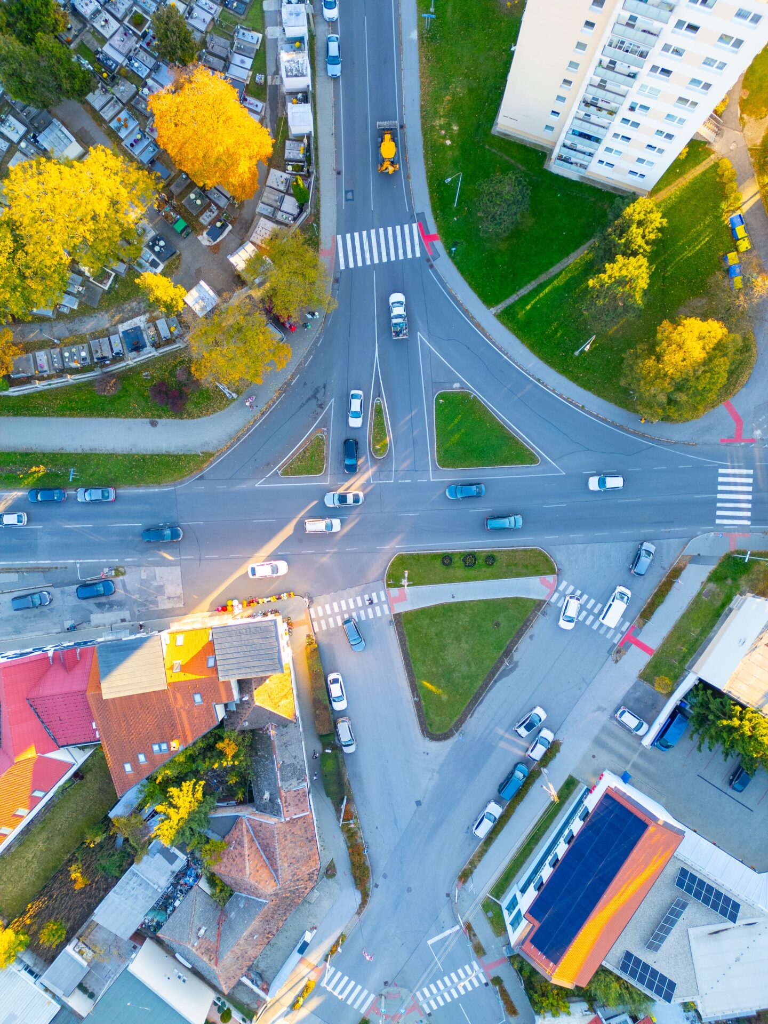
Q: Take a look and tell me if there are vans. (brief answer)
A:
Yes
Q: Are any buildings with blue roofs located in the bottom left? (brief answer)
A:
Yes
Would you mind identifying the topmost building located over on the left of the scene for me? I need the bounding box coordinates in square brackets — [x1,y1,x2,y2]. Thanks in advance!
[282,3,307,42]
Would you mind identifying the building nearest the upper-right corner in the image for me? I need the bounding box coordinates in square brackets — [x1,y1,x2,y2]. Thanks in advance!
[488,0,768,204]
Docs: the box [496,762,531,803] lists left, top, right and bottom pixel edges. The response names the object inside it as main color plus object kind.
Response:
blue vehicle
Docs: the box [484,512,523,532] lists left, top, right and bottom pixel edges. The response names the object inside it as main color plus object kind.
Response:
blue car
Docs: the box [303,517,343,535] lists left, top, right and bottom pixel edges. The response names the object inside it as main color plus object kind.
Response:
white car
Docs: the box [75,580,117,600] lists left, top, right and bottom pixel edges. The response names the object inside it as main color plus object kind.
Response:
blue car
